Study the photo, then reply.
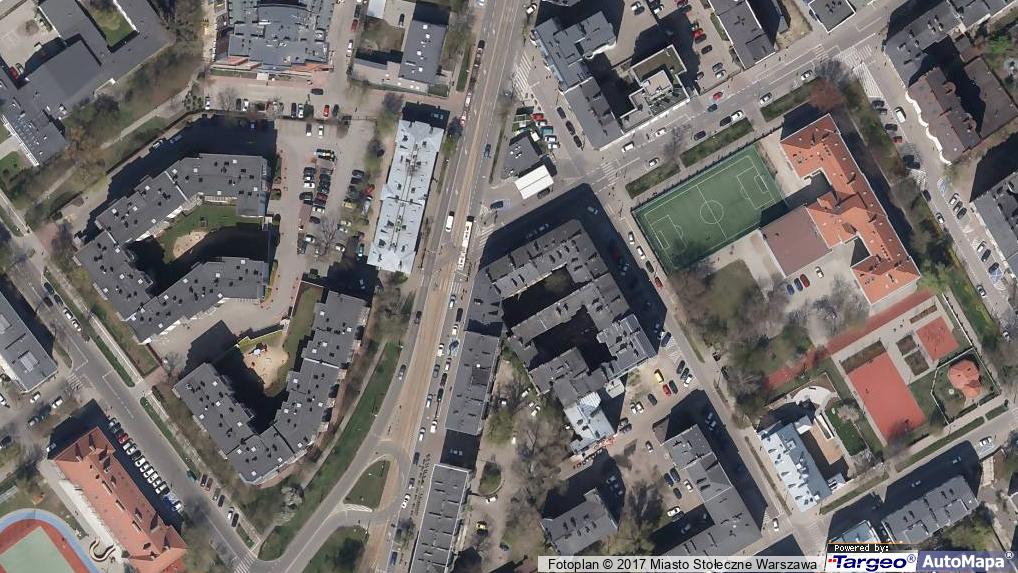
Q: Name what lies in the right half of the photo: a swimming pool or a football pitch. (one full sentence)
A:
You can see a football pitch in the right half of the photo.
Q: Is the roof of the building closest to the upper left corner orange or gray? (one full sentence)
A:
In this view, the roof of the building closest to the upper left corner is gray.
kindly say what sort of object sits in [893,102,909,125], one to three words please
vehicle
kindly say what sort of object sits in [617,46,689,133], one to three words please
building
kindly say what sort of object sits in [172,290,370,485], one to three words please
house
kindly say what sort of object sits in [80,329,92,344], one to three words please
vehicle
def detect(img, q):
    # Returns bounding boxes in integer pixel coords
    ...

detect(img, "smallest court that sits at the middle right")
[917,317,959,360]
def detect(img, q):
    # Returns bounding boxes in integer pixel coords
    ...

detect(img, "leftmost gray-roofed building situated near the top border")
[0,0,172,167]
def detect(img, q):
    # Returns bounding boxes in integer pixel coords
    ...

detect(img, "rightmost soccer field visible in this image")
[631,144,790,277]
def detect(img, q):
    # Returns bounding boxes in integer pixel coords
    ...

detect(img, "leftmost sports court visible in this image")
[848,352,926,442]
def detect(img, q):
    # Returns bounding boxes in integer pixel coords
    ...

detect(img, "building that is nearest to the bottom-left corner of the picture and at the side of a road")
[54,426,192,573]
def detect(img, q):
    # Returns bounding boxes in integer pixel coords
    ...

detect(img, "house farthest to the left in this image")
[0,286,61,391]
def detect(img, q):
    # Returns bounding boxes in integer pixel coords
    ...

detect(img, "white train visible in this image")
[455,220,474,271]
